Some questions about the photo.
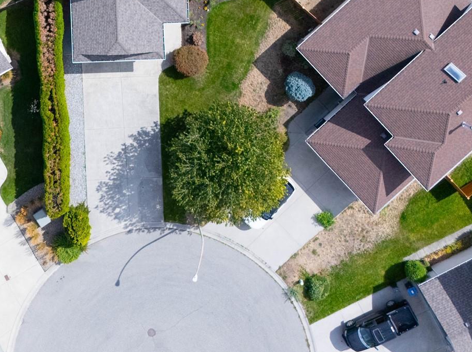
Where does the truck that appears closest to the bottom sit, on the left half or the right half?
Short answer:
right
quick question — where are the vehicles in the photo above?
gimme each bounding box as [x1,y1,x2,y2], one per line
[340,298,421,352]
[243,177,298,235]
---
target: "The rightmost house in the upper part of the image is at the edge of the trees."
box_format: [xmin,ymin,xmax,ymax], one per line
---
[294,0,472,215]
